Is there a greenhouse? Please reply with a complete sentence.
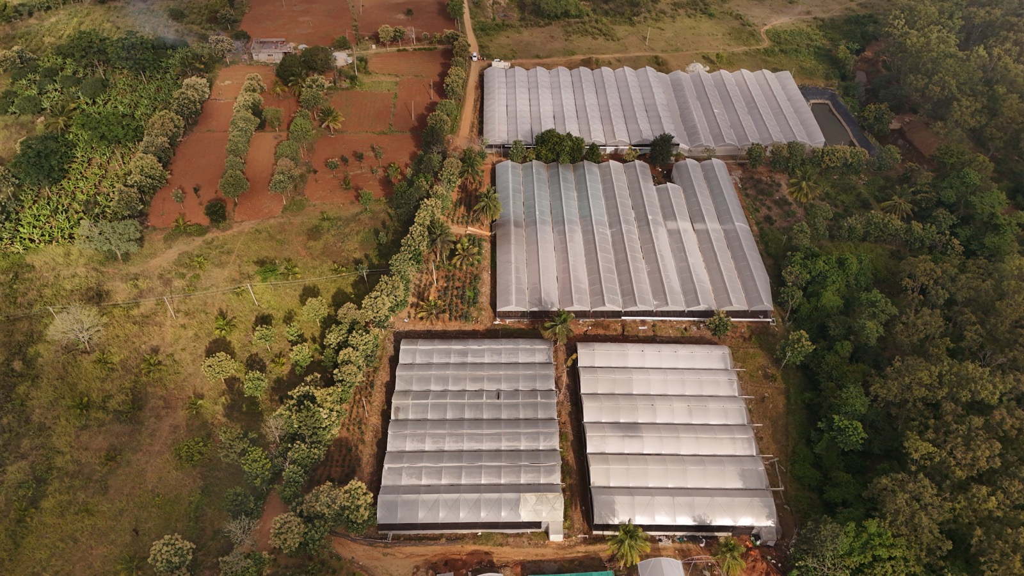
Yes, I can see a greenhouse in this picture.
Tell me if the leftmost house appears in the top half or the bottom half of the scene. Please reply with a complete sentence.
The leftmost house sits in the top half of the picture.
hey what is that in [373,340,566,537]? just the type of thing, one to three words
greenhouse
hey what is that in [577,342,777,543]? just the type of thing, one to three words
greenhouse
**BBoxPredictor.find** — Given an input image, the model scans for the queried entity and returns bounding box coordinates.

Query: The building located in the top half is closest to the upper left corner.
[248,38,297,62]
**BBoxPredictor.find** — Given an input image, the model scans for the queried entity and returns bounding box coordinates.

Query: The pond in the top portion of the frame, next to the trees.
[798,86,909,176]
